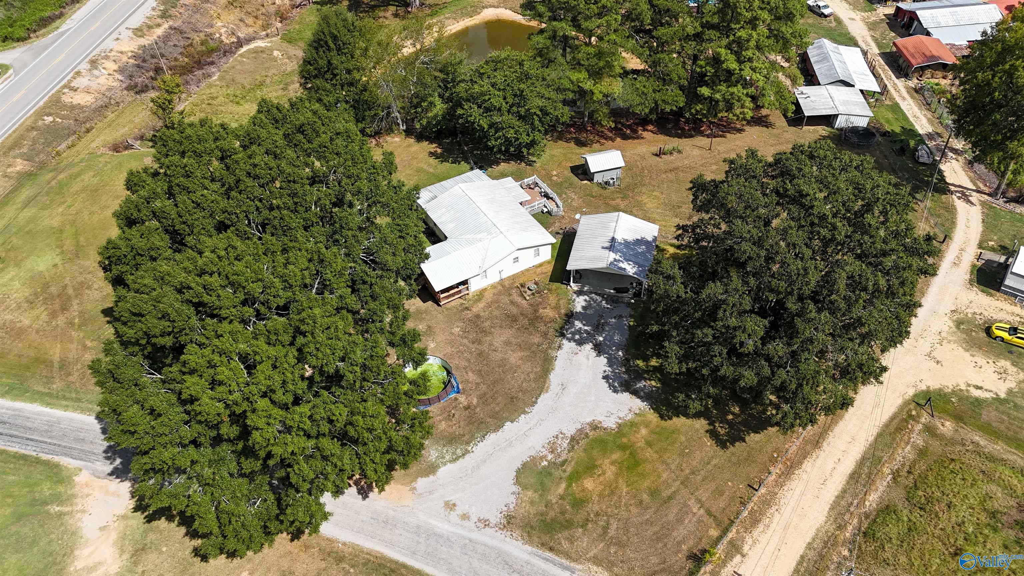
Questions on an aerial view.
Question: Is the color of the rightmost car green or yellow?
yellow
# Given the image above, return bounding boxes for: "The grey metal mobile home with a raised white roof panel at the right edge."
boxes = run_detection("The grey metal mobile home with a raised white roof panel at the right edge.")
[995,244,1024,312]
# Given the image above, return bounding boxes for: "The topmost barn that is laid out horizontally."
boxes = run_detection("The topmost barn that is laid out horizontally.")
[895,0,1005,40]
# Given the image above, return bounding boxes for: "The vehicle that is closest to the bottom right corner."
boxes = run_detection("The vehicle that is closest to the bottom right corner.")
[988,322,1024,348]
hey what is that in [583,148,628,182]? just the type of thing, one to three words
shed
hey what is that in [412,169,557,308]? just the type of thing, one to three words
house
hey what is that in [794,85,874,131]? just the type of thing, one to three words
shed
